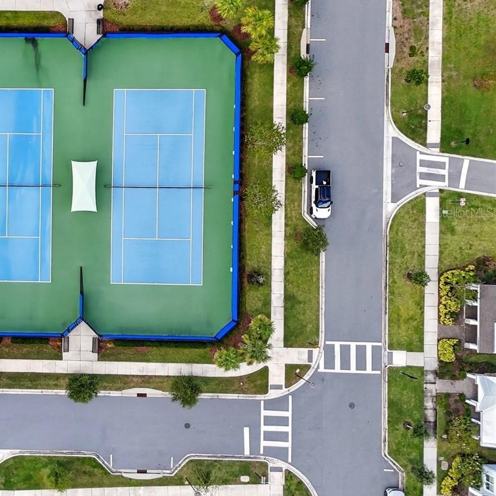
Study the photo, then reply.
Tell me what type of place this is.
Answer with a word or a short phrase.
sports ground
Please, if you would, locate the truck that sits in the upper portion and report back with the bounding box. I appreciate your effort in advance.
[311,170,333,218]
